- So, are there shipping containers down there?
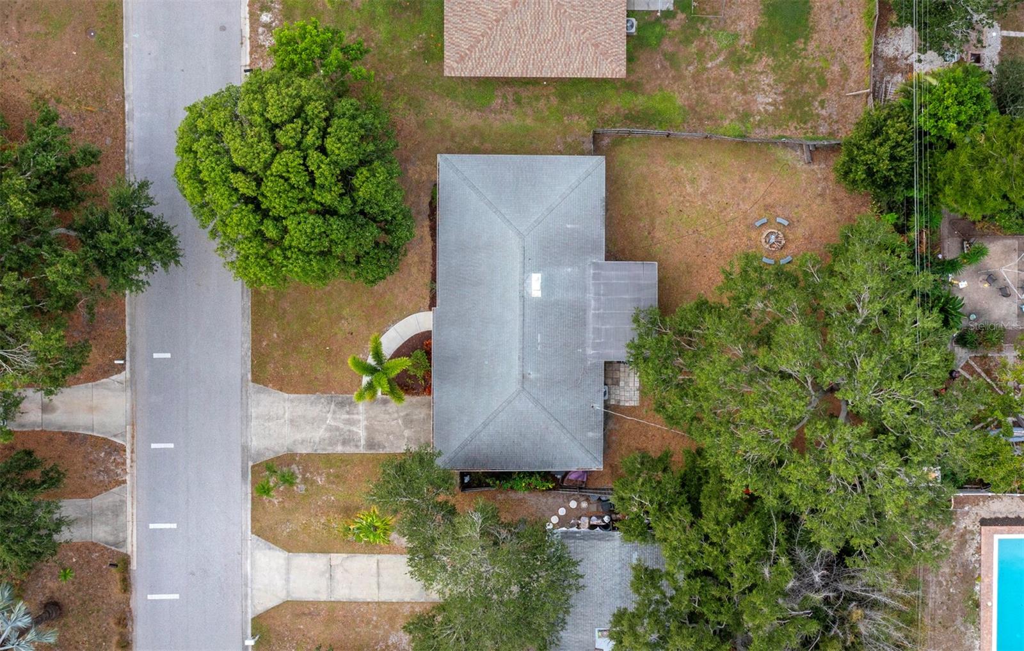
No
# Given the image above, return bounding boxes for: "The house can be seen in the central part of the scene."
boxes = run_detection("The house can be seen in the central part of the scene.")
[431,153,658,472]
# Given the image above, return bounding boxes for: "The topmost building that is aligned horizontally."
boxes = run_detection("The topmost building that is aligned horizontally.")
[443,0,628,79]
